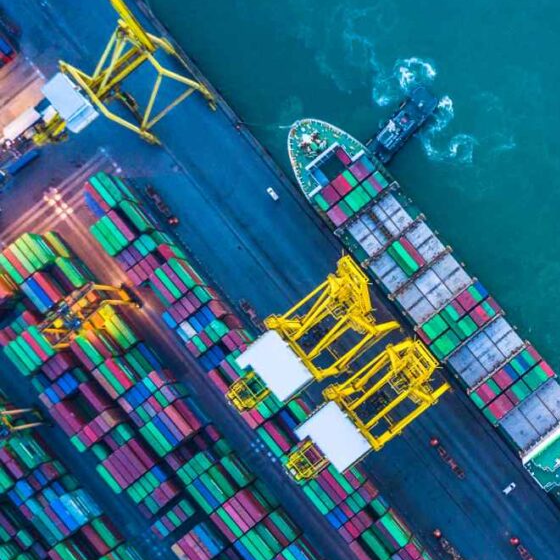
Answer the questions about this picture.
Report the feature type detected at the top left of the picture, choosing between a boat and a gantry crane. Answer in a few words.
gantry crane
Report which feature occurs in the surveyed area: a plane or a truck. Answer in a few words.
truck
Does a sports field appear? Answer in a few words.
No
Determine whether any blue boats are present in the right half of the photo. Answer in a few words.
Yes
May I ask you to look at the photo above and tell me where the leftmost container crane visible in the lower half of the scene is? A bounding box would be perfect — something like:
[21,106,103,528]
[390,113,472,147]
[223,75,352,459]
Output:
[0,404,48,434]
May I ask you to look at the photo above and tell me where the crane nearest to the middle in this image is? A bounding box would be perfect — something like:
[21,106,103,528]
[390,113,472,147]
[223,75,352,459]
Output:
[220,246,405,414]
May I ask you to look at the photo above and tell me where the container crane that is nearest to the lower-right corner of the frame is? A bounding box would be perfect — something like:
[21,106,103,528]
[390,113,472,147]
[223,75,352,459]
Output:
[280,333,456,487]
